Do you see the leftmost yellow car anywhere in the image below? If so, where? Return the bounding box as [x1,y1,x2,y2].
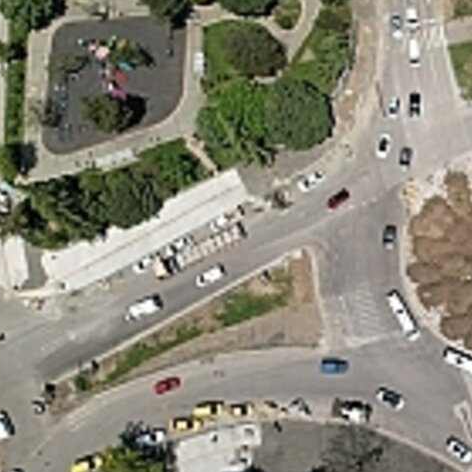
[70,452,105,472]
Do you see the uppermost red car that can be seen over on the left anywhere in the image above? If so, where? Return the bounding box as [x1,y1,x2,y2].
[152,376,183,395]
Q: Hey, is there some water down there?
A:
No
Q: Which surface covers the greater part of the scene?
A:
paved ground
